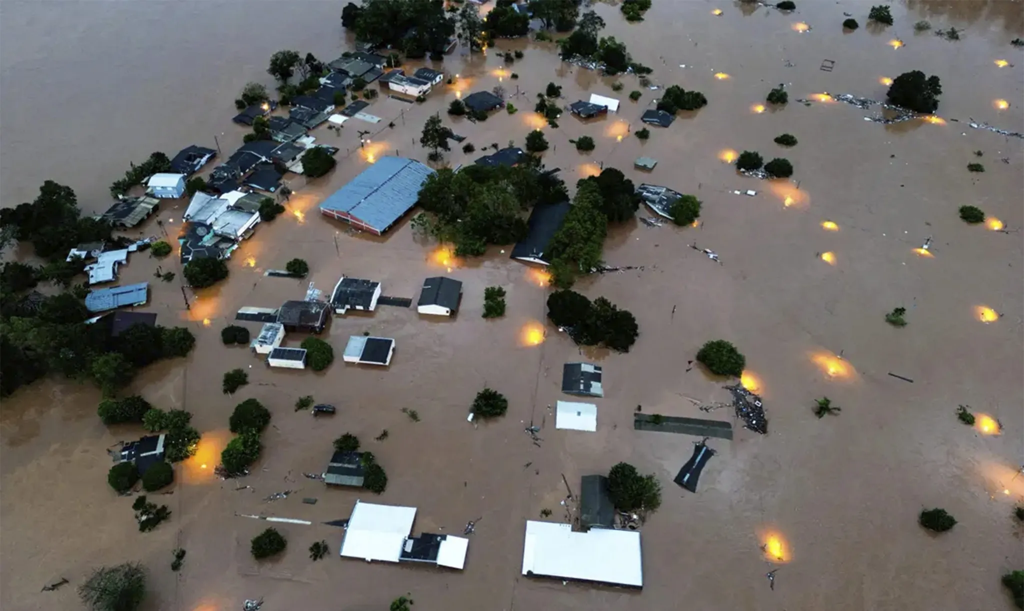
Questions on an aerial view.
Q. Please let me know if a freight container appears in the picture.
No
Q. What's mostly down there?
water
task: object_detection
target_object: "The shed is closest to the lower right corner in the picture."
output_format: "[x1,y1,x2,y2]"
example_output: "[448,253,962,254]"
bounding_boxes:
[634,412,734,442]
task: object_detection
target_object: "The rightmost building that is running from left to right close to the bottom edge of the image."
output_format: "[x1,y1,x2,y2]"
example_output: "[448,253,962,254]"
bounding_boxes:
[523,521,642,588]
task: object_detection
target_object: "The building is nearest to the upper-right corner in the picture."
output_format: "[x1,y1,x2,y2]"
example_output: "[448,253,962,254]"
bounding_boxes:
[642,110,677,129]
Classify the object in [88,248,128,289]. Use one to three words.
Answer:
house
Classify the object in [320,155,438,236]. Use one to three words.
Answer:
building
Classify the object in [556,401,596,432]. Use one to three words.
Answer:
house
